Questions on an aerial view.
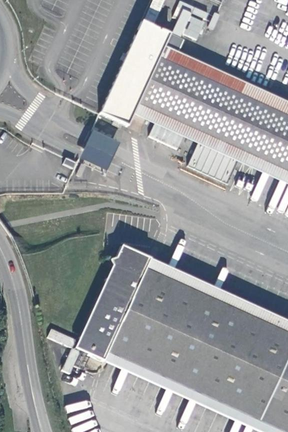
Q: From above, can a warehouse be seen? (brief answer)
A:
Yes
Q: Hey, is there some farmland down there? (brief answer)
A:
No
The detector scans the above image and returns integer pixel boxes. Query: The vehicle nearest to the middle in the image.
[170,238,187,264]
